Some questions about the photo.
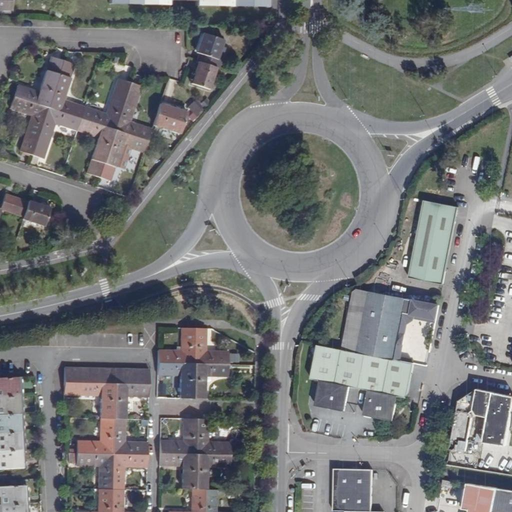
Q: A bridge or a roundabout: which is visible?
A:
roundabout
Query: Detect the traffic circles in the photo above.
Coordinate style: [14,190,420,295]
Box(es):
[201,93,398,291]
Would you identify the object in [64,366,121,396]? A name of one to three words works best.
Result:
house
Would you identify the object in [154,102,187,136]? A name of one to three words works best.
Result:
house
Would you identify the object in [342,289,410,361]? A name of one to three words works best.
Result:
building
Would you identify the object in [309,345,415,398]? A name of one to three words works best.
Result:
building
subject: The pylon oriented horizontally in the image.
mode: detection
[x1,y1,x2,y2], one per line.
[450,5,494,20]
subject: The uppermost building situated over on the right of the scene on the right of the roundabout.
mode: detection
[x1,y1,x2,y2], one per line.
[408,200,460,286]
